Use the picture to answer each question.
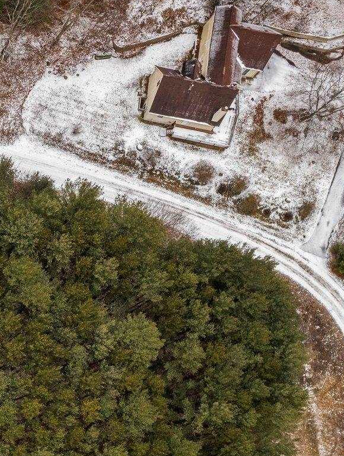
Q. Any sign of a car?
No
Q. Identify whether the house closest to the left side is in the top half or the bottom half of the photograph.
top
